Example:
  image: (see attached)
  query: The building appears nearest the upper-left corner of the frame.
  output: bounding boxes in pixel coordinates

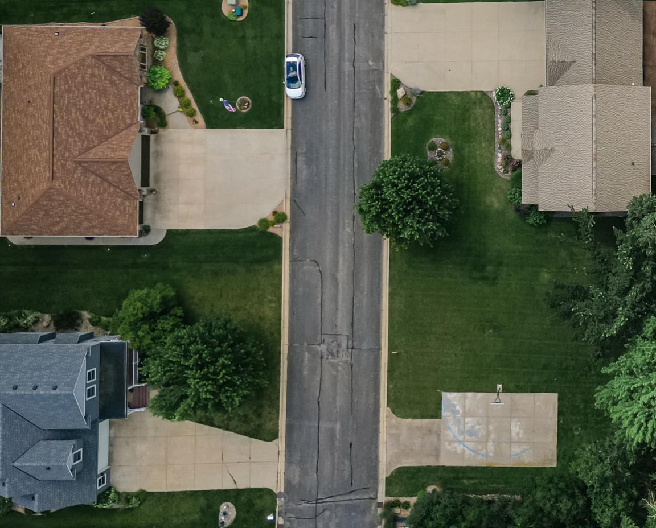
[0,24,159,237]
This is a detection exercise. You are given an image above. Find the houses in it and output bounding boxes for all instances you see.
[0,24,159,237]
[522,0,656,213]
[0,330,153,512]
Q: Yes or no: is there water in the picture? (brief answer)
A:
No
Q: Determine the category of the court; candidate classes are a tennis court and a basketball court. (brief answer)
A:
basketball court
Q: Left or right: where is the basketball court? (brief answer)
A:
right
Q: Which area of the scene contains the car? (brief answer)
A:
top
